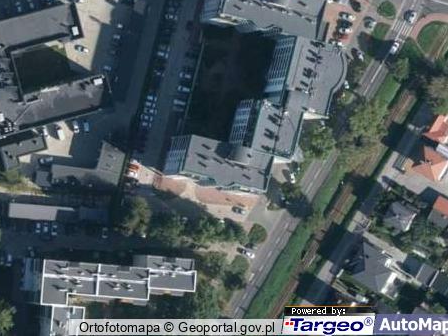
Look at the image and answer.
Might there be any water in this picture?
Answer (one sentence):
No, the picture contains no water.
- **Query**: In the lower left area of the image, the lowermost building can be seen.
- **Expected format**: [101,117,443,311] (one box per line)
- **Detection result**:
[42,305,84,336]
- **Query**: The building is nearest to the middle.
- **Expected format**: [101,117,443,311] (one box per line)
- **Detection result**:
[166,134,273,195]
